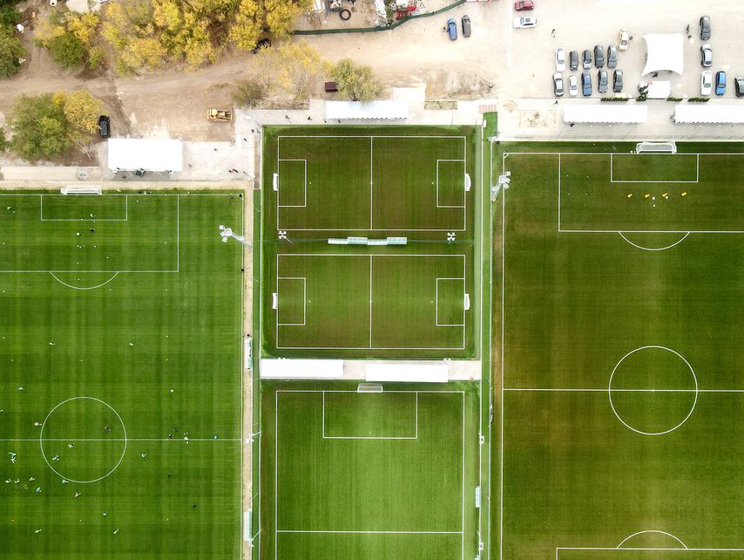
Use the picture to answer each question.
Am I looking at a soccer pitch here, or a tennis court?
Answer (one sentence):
There is a soccer pitch in the scene.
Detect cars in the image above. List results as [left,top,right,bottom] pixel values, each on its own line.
[582,71,594,94]
[607,44,619,67]
[553,73,564,94]
[613,69,625,90]
[569,49,581,71]
[594,43,606,67]
[555,47,566,71]
[735,75,744,96]
[447,17,458,38]
[716,71,729,94]
[700,13,712,38]
[97,113,109,137]
[701,43,713,66]
[461,13,473,37]
[618,26,631,50]
[701,71,712,94]
[514,15,538,28]
[514,0,535,10]
[583,48,593,69]
[568,74,580,95]
[598,69,609,91]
